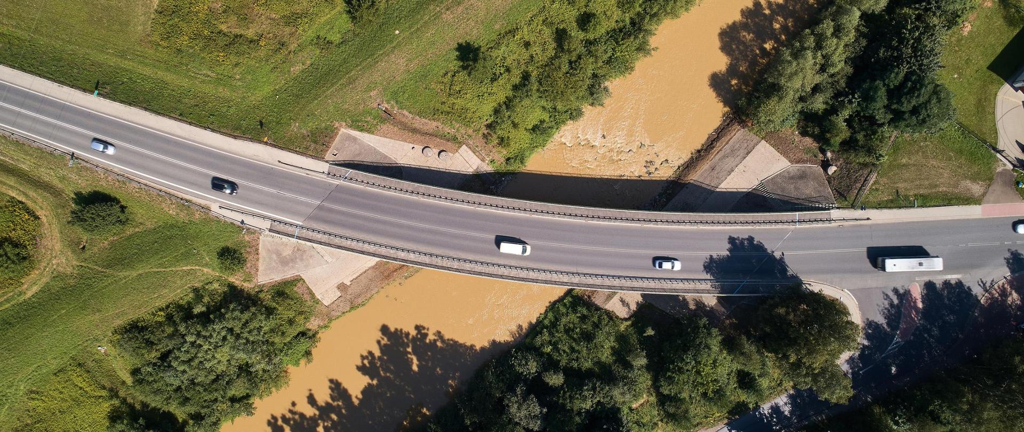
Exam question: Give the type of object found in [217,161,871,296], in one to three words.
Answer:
bridge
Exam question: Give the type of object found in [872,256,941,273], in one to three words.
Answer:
vehicle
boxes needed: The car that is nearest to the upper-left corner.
[89,138,116,153]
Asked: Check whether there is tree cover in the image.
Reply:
Yes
